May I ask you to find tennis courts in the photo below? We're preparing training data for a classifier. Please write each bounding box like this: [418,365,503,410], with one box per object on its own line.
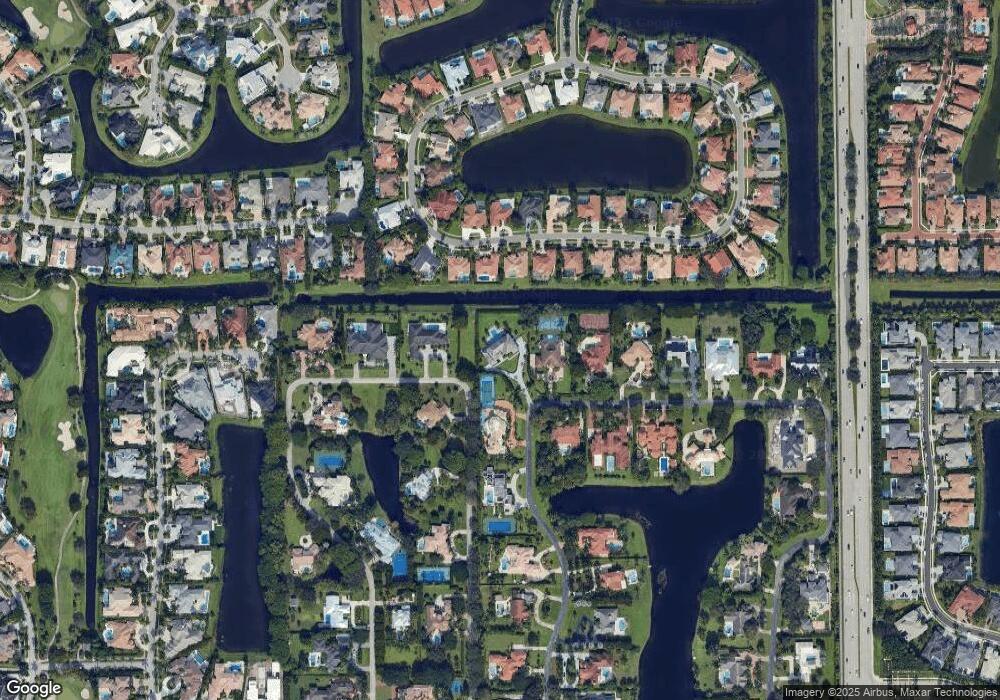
[580,314,609,329]
[314,451,345,470]
[480,375,494,406]
[486,518,516,534]
[392,553,408,577]
[417,567,450,583]
[538,316,567,330]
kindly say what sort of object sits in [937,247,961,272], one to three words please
house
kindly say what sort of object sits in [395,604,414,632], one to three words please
house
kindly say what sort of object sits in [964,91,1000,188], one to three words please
pond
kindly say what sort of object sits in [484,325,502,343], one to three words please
swimming pool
